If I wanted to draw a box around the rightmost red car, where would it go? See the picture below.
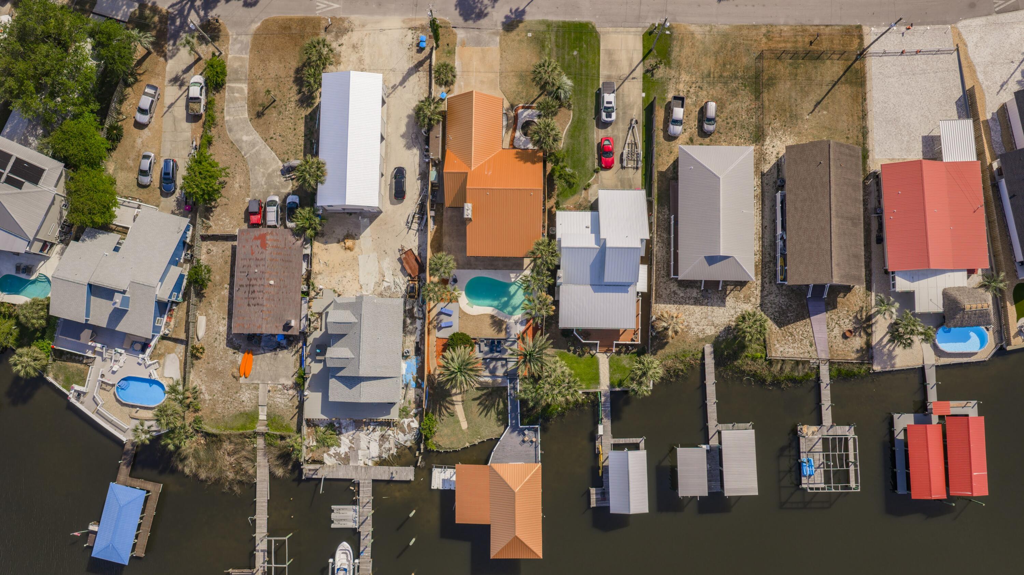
[599,137,615,169]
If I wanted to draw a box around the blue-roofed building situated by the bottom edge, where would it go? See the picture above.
[83,482,155,566]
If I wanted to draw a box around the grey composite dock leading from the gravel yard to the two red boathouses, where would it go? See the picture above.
[889,364,982,494]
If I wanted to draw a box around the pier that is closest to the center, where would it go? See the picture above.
[489,377,542,464]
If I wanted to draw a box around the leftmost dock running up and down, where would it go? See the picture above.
[114,440,166,557]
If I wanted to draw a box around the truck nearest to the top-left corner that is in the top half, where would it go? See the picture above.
[137,84,163,125]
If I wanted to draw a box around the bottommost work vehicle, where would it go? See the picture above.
[407,276,421,301]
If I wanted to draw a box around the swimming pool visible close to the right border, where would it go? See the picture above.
[930,324,990,354]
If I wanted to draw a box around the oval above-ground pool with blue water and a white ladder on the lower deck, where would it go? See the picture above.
[115,372,171,407]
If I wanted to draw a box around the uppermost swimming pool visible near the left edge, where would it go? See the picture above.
[0,271,52,300]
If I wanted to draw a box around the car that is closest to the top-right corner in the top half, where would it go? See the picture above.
[701,102,717,134]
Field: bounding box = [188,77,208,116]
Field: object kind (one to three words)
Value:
vehicle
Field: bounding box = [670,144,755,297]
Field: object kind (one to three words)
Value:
house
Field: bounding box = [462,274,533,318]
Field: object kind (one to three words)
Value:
swimming pool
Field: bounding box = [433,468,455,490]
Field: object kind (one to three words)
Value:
pier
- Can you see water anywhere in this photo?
Yes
